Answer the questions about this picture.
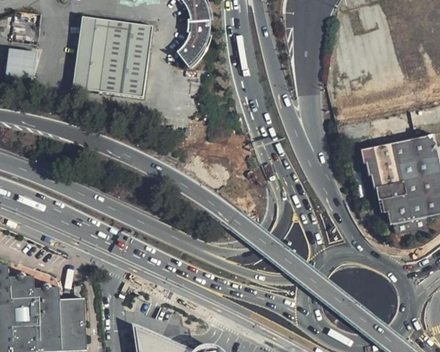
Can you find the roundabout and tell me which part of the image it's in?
bottom right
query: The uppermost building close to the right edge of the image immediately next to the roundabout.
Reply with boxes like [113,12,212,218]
[360,134,440,225]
